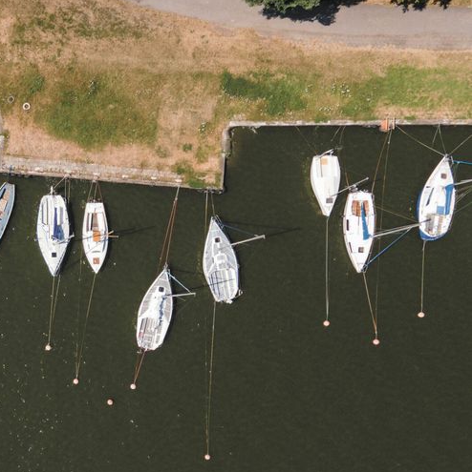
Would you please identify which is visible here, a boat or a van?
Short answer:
boat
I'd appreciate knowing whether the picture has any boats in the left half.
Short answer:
Yes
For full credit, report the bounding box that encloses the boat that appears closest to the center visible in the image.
[202,217,265,305]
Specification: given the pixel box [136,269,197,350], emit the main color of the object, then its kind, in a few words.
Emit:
white boat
